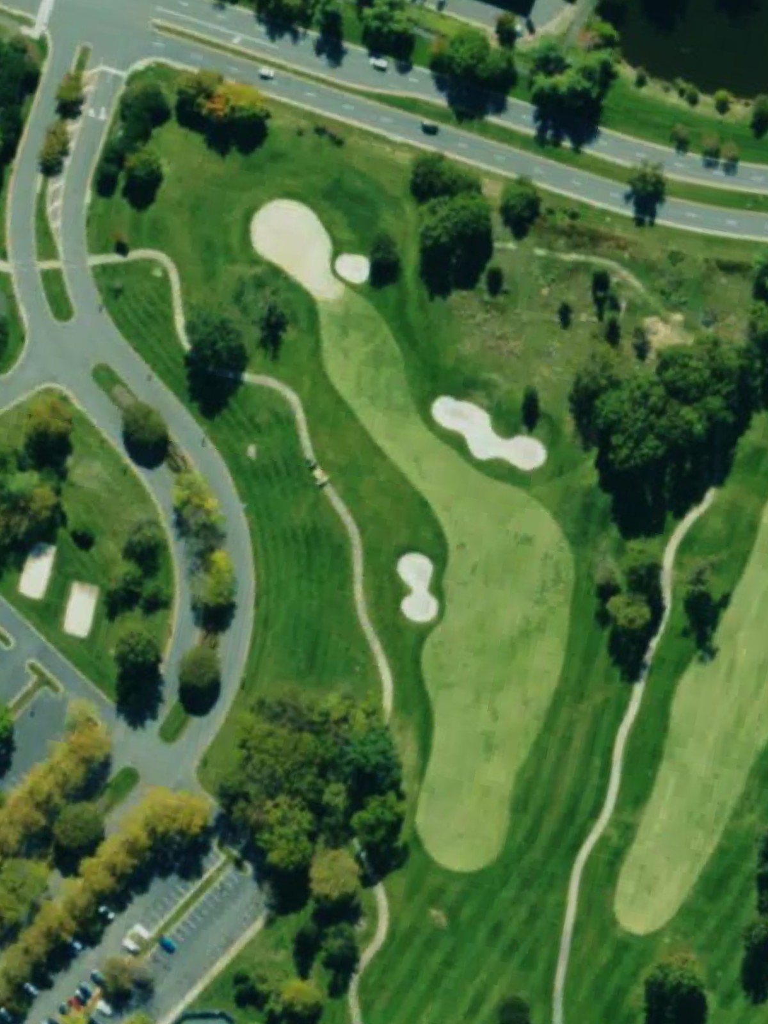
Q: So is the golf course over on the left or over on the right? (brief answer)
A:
right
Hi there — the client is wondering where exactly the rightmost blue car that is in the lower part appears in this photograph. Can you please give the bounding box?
[160,938,175,952]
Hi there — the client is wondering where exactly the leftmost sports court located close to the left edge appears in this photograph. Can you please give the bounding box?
[17,543,57,601]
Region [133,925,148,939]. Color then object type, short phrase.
white car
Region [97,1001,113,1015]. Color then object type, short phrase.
white car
